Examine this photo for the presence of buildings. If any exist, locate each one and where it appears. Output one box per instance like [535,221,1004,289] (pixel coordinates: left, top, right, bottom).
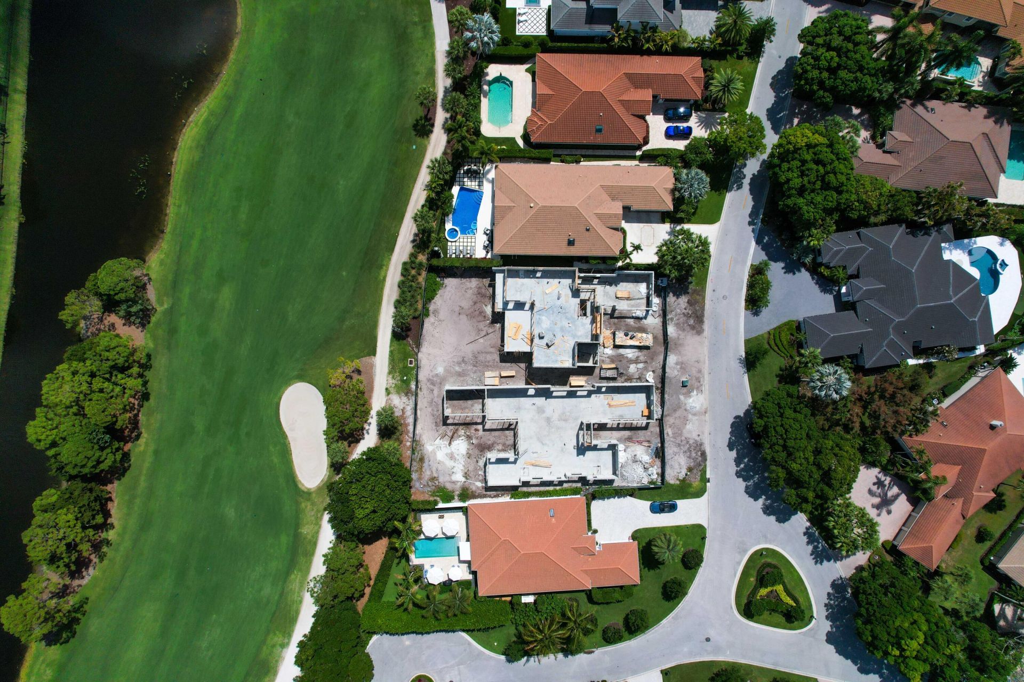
[799,223,995,369]
[849,97,1012,199]
[893,366,1024,571]
[527,53,704,146]
[444,382,656,486]
[551,0,681,35]
[992,525,1024,588]
[493,164,675,256]
[495,267,654,367]
[468,497,640,597]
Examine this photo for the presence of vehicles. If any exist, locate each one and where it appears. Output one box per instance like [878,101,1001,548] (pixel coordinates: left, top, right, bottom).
[649,501,678,514]
[665,107,692,121]
[665,126,692,138]
[744,421,763,448]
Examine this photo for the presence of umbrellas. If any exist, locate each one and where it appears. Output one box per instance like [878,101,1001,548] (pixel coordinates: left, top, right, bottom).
[442,519,459,536]
[422,519,441,537]
[426,566,444,584]
[448,566,462,581]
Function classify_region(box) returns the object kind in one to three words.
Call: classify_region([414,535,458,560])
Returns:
swimming pool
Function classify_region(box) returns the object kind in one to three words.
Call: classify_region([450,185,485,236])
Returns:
swimming pool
